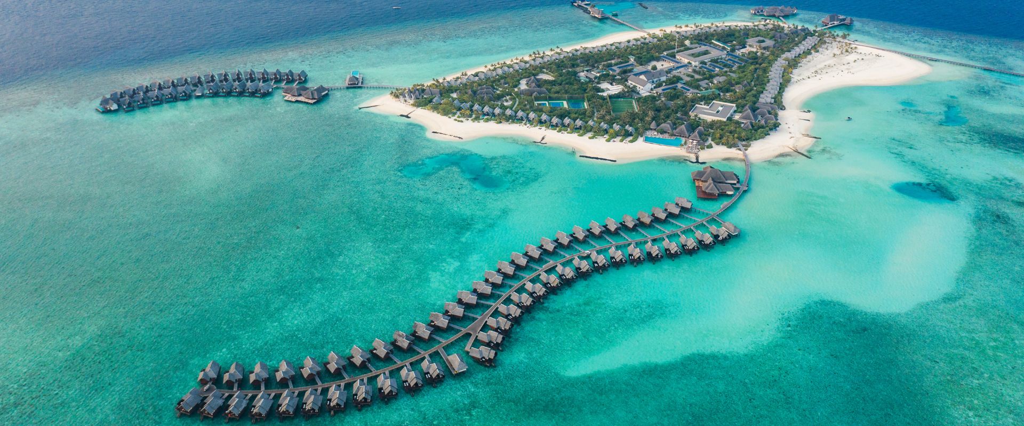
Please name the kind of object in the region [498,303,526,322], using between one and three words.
house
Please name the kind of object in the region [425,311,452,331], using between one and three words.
house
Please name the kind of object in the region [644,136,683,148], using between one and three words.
swimming pool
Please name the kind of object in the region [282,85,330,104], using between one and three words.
building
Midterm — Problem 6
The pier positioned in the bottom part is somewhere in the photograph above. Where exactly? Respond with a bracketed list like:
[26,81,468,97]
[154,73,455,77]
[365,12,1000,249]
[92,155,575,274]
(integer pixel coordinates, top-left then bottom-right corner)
[199,142,751,398]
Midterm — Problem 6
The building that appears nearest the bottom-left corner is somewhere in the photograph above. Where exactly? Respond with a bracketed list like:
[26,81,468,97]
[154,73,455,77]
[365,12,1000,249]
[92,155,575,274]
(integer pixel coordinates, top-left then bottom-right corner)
[172,388,203,419]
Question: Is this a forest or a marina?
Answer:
marina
